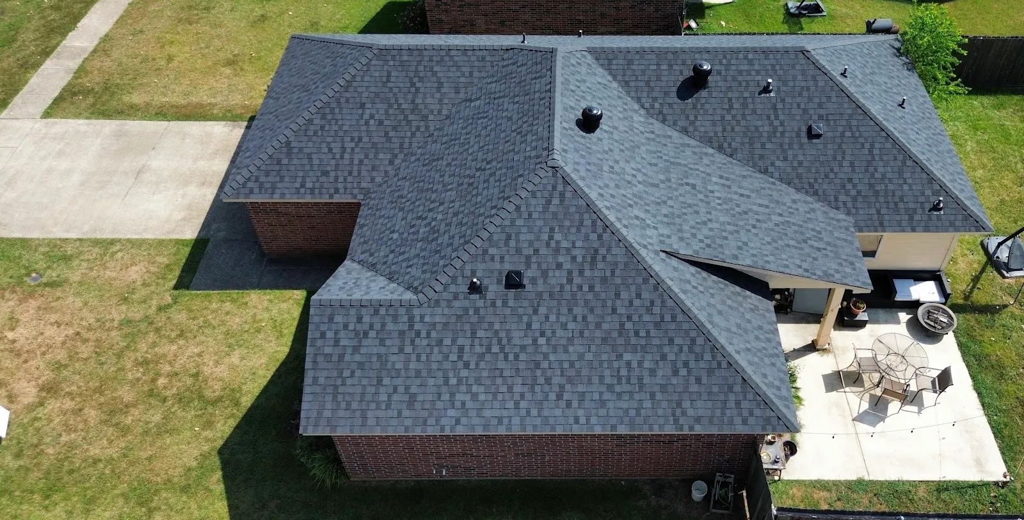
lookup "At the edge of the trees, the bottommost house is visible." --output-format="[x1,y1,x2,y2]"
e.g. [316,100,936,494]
[220,27,995,485]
